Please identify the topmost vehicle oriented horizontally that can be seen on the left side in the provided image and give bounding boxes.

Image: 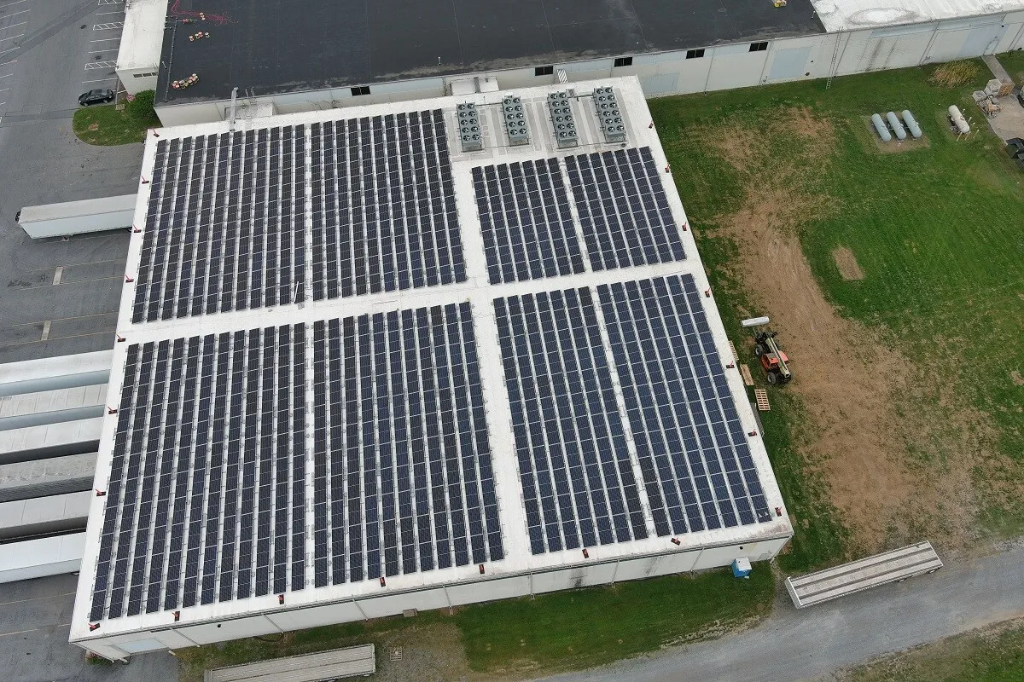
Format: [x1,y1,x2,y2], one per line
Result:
[77,84,114,103]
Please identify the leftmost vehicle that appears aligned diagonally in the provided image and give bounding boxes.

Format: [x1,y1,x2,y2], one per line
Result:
[749,328,798,385]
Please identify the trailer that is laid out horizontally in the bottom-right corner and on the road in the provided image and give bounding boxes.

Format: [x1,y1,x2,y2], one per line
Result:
[785,541,945,611]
